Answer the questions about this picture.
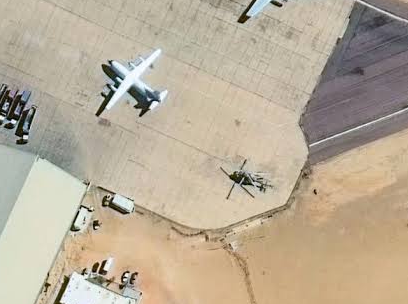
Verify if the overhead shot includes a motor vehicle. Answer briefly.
Yes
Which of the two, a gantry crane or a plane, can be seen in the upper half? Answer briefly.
plane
